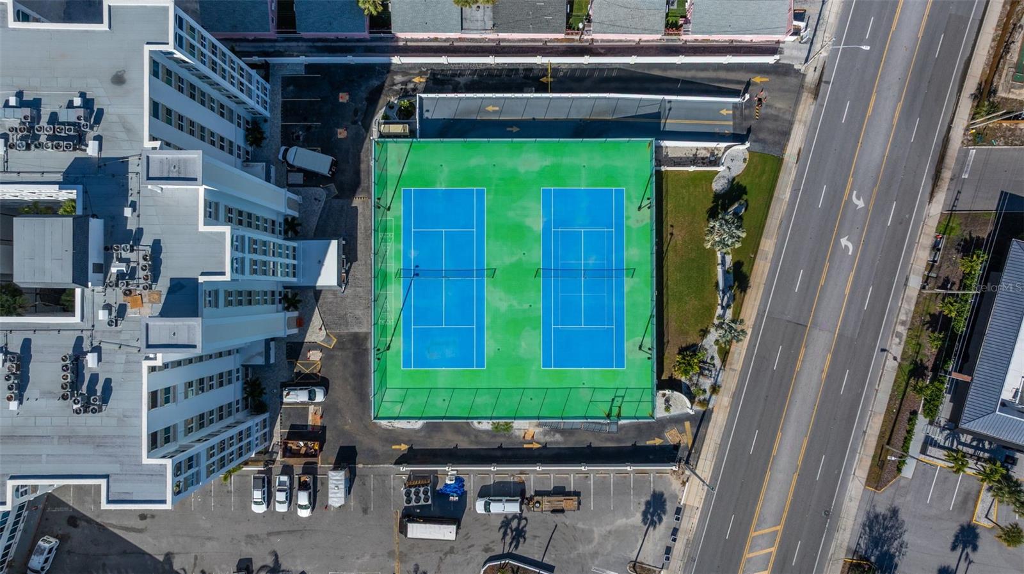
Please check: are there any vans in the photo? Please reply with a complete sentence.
Yes, I can see a van in this picture.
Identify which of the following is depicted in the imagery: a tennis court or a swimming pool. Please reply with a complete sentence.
This aerial view contains a tennis court.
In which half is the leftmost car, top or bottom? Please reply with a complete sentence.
The leftmost car sits in the bottom half of the picture.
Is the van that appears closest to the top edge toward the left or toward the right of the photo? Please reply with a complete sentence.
You can find the van that appears closest to the top edge on the left side of the picture.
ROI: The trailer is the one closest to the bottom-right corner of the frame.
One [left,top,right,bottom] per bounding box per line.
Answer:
[526,493,580,515]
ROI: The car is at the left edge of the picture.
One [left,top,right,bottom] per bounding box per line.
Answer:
[31,536,60,573]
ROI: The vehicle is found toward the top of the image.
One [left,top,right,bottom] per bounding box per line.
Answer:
[285,145,344,178]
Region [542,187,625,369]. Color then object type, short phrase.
blue tennis court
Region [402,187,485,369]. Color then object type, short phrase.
blue tennis court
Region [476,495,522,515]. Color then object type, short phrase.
white vehicle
